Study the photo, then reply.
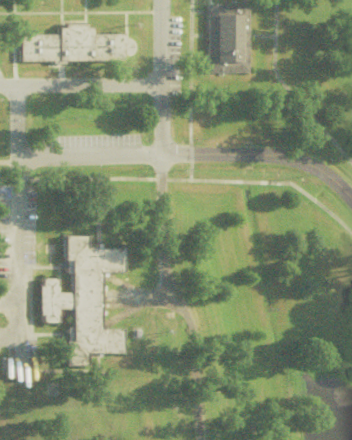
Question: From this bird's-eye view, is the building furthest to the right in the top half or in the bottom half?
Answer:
top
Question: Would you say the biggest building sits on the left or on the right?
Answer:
left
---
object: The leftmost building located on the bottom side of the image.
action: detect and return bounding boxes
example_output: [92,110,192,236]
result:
[43,236,130,366]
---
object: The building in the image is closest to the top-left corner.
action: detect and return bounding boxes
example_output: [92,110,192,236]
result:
[23,23,139,62]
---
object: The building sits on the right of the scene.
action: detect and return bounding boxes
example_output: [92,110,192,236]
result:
[212,8,255,74]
